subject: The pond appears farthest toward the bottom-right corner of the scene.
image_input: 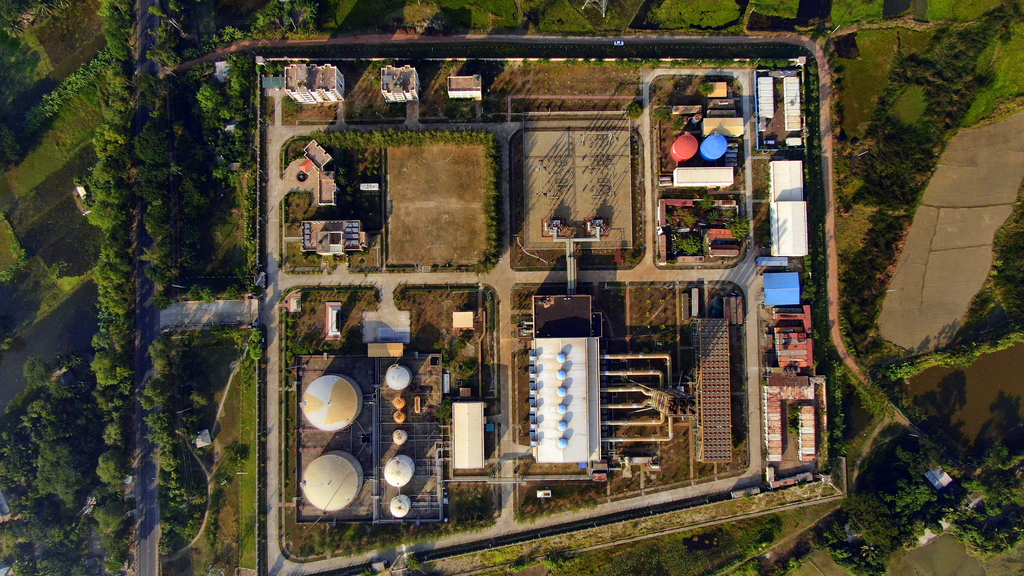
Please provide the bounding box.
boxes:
[900,341,1024,447]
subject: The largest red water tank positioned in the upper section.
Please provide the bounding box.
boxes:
[671,130,699,168]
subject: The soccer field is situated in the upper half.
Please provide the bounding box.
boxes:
[386,143,490,266]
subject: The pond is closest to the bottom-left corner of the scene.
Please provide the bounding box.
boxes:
[0,277,100,412]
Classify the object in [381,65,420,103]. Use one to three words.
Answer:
building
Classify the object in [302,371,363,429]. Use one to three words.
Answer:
storage tank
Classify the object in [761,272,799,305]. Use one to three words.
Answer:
shed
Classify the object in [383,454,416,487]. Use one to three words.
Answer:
storage tank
